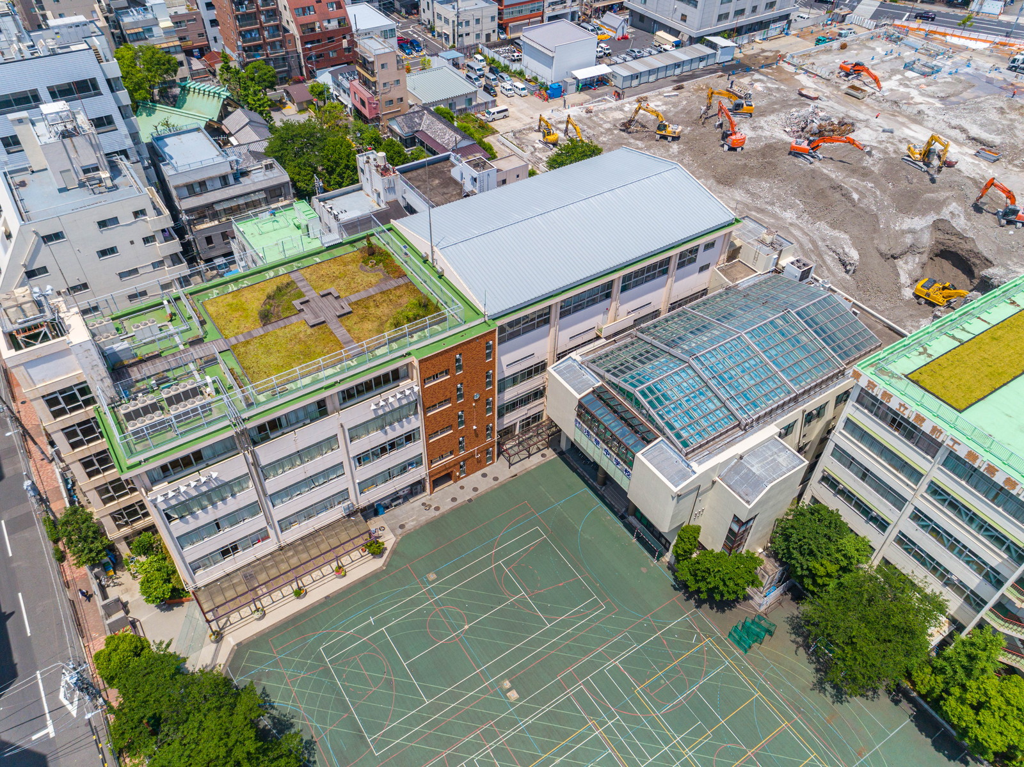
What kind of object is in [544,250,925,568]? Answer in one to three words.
building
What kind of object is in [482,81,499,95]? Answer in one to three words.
vehicle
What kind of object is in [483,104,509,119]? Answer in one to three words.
vehicle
